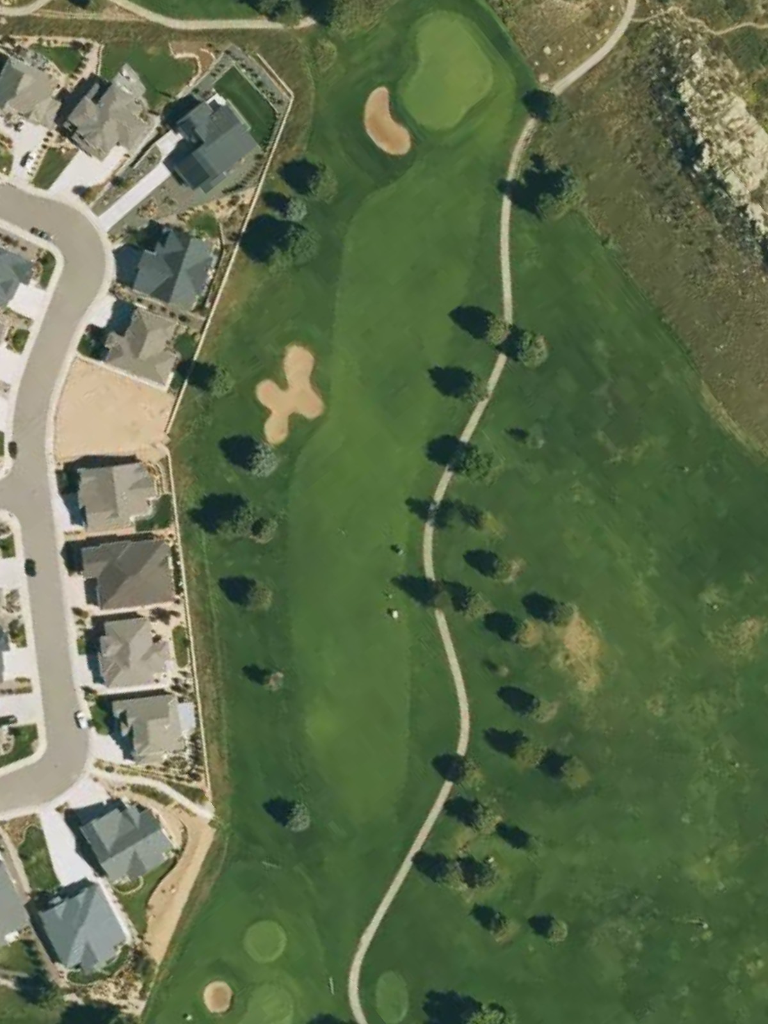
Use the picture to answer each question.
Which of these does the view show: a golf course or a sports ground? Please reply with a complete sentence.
What you see here is a golf course.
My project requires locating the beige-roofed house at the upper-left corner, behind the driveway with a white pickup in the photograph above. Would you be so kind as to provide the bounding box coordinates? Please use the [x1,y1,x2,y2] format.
[0,50,66,132]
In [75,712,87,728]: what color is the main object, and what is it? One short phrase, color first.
white vehicle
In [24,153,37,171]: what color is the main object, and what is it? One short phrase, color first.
white vehicle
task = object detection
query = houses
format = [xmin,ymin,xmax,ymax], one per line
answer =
[0,864,34,951]
[0,625,9,680]
[128,224,215,310]
[0,248,32,311]
[39,880,127,972]
[0,50,66,132]
[98,618,171,688]
[171,102,256,193]
[81,538,176,610]
[99,302,179,388]
[80,463,158,532]
[76,802,171,887]
[111,696,185,770]
[57,56,162,163]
